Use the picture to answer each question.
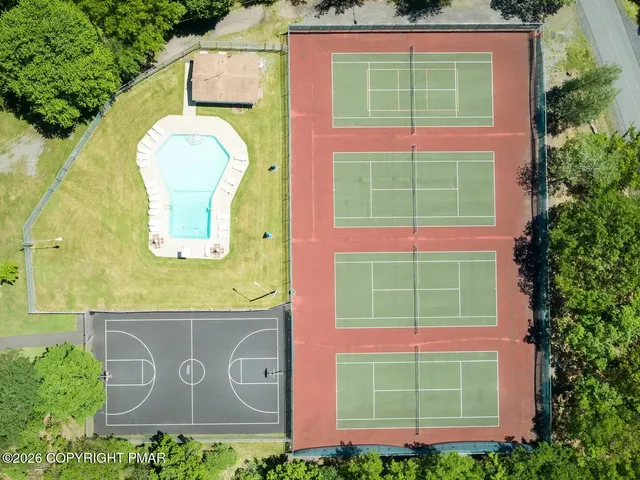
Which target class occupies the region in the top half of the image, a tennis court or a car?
tennis court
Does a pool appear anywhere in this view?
Yes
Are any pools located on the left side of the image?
Yes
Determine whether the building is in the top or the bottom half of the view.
top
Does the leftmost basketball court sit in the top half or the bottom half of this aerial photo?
bottom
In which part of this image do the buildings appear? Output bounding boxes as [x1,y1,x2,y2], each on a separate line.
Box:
[191,52,258,105]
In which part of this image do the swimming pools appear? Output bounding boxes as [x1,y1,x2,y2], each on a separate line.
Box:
[137,115,249,258]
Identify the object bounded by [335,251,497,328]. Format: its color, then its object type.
green tennis court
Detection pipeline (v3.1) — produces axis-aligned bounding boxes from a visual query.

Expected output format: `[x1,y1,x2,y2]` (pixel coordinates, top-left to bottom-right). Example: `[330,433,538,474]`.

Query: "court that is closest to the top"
[332,52,494,128]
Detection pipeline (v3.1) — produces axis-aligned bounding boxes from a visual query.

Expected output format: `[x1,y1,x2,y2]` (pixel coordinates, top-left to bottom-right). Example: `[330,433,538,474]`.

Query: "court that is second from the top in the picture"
[334,151,496,228]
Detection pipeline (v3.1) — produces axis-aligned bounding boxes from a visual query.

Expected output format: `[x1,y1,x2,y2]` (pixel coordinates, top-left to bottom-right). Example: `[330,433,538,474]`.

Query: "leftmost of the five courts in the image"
[92,306,292,436]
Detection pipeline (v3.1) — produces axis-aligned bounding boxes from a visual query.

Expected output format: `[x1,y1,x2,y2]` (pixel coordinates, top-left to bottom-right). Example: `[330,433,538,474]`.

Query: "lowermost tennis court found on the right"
[336,351,499,429]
